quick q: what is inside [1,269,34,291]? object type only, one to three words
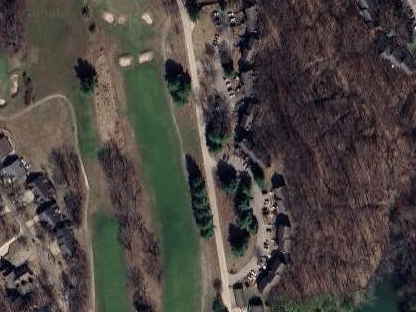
house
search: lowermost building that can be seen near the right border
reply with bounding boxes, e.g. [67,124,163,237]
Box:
[382,48,412,77]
